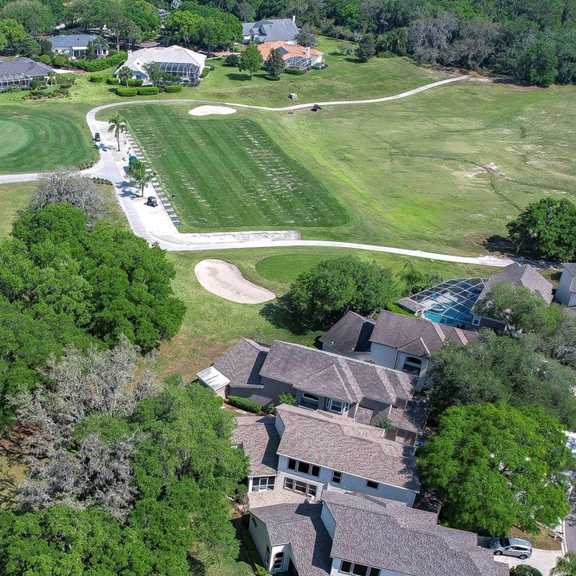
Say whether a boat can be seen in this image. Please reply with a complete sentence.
No, I can't see a single boat in this photo.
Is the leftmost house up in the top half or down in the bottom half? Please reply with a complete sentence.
The leftmost house is in the top half of the image.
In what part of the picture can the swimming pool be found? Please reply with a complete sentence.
The swimming pool is in the right part of the image.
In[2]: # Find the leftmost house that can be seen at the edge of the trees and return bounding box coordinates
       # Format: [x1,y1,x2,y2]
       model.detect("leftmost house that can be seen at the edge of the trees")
[0,55,60,84]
